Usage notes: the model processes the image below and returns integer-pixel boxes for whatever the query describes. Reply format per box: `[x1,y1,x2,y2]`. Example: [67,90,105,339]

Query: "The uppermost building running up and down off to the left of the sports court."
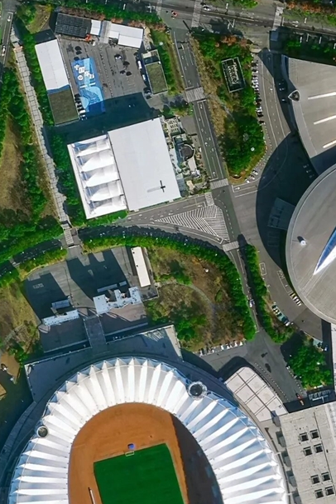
[33,38,69,95]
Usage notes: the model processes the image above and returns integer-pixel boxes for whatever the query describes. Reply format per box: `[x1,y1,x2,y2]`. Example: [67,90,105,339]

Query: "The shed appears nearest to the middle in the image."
[131,248,151,286]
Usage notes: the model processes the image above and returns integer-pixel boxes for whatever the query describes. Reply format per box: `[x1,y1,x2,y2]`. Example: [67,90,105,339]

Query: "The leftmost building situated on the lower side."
[41,299,80,325]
